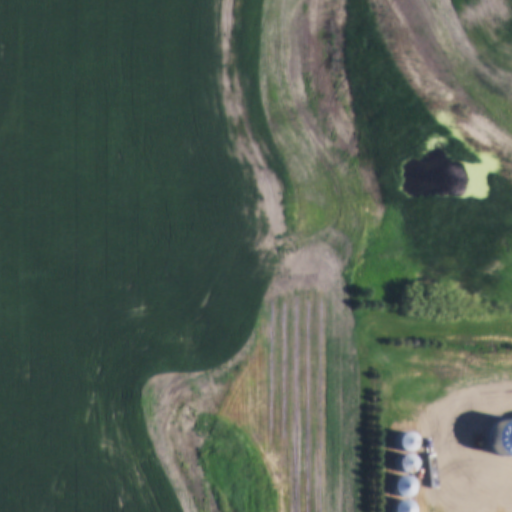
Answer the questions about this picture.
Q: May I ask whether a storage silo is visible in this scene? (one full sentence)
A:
Yes, this view includes a storage silo.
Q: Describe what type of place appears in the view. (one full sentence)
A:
This looks like farmland.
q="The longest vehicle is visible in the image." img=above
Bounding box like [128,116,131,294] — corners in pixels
[427,438,440,488]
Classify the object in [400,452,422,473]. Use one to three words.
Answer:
silo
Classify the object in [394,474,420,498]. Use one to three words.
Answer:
silo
